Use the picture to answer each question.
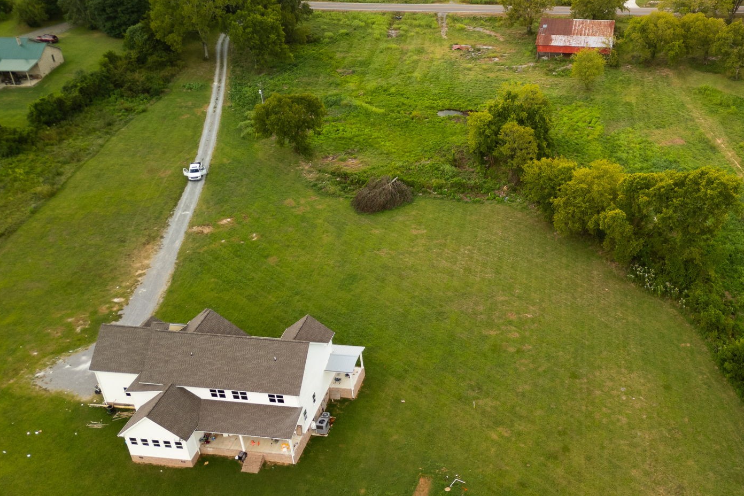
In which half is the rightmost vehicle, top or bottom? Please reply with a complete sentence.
Seen from above, the rightmost vehicle lies in the top half of the view.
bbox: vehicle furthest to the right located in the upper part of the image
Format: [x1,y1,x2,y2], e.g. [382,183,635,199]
[186,157,215,177]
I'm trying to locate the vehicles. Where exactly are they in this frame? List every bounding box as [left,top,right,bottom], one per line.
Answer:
[36,32,62,41]
[186,157,215,177]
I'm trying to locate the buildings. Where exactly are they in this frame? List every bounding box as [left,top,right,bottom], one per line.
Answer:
[536,19,615,59]
[0,36,63,88]
[88,308,368,472]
